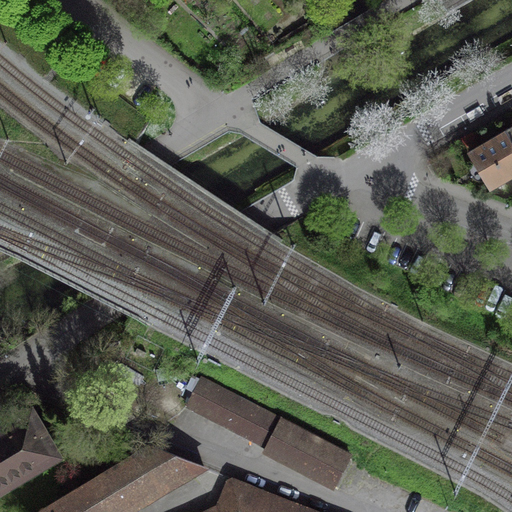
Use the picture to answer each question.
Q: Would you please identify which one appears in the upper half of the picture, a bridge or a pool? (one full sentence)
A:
The one visible in the upper half of the picture is a bridge.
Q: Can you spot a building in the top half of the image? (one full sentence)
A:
Yes, in the top half of the image there is a building.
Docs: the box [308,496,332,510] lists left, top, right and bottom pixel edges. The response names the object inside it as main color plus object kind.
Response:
black car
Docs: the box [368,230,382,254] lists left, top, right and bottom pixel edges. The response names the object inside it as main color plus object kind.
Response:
white car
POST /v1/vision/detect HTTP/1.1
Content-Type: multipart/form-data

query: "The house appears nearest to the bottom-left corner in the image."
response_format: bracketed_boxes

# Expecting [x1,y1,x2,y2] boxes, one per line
[0,407,62,497]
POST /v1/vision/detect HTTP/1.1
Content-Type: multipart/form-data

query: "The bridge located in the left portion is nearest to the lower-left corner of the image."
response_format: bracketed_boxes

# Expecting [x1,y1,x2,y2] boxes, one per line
[0,241,153,326]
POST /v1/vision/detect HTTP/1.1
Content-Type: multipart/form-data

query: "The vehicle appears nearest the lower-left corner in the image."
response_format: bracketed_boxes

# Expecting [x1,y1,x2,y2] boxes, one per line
[244,473,267,488]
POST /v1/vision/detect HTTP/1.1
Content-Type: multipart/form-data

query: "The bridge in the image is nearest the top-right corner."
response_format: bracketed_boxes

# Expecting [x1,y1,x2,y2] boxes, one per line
[242,122,316,168]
